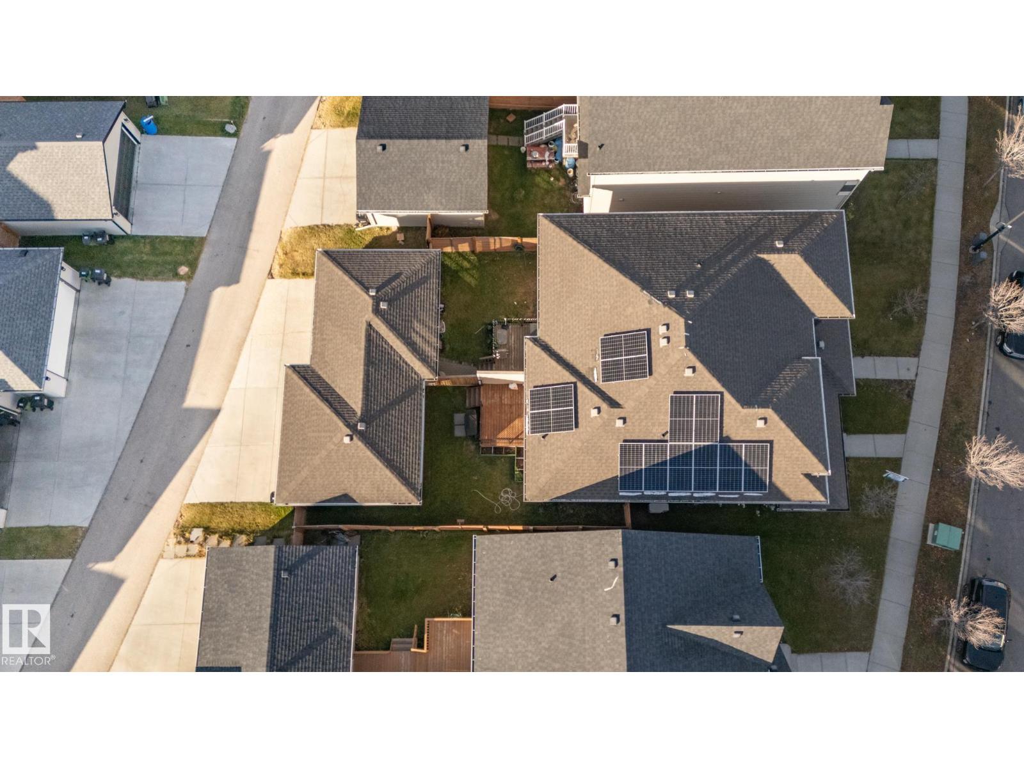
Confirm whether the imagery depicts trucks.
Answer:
No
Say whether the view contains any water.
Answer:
No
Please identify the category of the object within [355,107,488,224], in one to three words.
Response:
building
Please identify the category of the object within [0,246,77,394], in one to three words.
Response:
building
